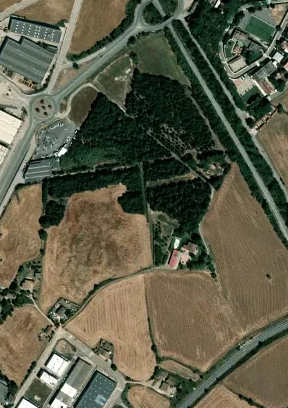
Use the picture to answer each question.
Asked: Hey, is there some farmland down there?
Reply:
Yes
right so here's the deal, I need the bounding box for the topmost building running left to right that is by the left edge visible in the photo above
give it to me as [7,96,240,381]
[11,18,62,43]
